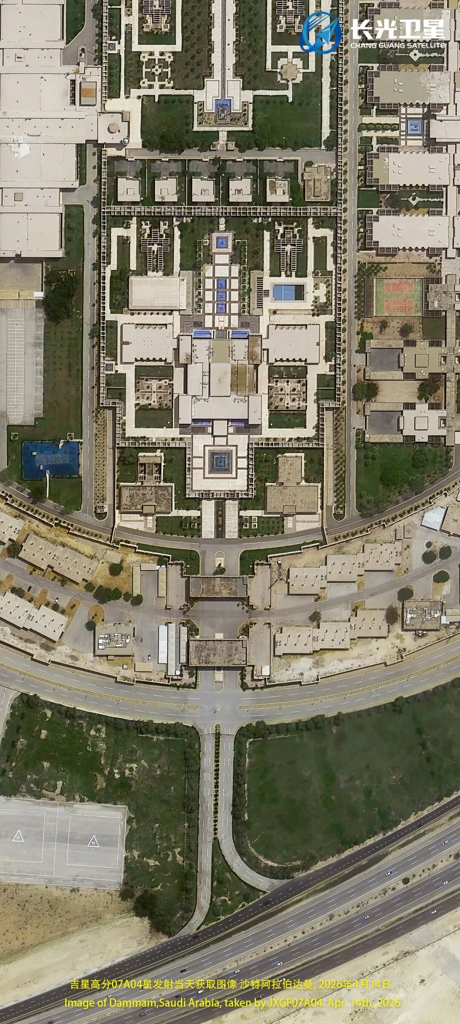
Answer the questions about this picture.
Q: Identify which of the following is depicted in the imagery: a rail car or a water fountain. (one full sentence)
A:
Of the two, only a water fountain appears.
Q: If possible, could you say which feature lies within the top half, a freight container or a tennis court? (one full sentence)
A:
You can see a tennis court within the top half.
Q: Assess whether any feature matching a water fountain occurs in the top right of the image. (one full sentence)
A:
Yes, there is a water fountain in the top right of the image.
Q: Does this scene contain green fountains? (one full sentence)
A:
No, I can see no green fountain in this picture.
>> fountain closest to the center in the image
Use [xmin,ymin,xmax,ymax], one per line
[208,450,233,474]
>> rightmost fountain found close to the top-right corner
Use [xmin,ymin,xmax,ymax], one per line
[407,119,423,136]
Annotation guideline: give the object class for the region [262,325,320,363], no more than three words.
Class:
building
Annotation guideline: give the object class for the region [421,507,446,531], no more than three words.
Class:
shed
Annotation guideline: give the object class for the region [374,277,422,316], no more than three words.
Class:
tennis court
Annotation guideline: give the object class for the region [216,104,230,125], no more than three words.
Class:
fountain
